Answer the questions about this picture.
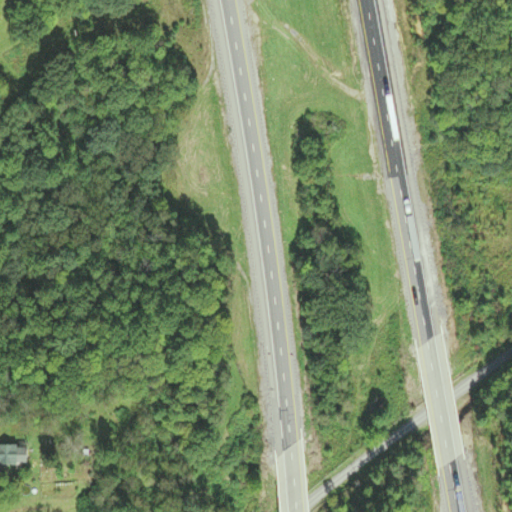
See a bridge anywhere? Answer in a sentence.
Yes, there's a bridge down there.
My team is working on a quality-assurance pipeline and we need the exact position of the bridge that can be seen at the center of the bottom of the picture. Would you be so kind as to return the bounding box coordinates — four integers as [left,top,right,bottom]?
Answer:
[276,428,309,512]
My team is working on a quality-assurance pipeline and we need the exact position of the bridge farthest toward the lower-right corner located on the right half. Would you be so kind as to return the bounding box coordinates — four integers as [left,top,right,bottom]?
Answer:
[415,322,466,477]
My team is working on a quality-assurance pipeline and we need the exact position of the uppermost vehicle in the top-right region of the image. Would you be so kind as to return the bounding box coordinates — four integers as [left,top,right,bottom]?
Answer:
[382,76,400,142]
